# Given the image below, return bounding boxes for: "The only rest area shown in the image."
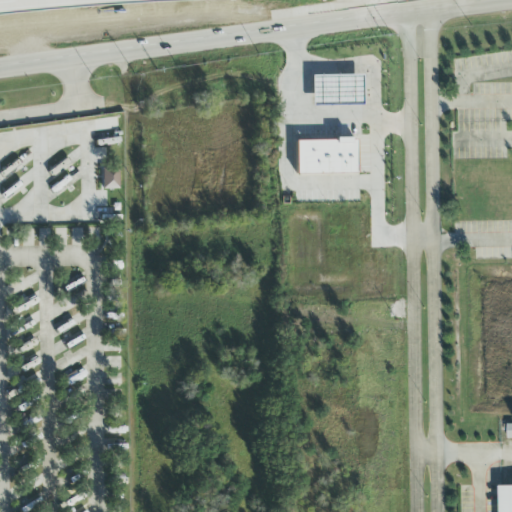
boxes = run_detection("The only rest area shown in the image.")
[262,35,410,250]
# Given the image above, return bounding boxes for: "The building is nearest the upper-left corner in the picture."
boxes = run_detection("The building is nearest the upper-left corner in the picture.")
[104,168,121,190]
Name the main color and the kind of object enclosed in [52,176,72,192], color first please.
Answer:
white camper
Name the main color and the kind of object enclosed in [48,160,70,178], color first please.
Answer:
white camper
